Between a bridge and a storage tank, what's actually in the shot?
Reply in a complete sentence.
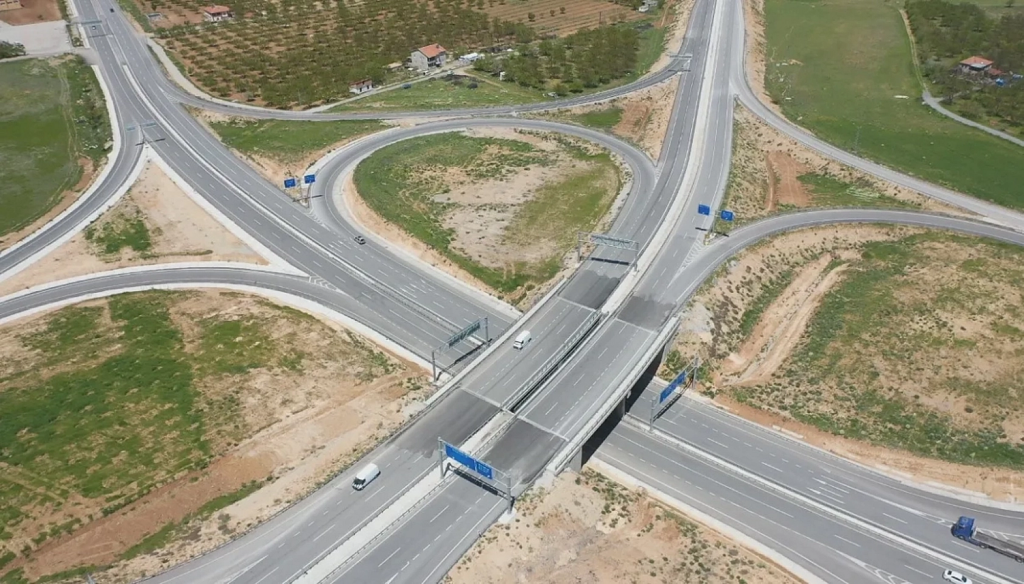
The image shows a bridge.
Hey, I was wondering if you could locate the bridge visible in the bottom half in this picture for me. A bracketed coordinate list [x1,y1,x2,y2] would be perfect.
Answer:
[406,264,687,486]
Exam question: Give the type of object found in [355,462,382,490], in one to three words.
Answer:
vehicle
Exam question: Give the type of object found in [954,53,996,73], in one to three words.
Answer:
house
